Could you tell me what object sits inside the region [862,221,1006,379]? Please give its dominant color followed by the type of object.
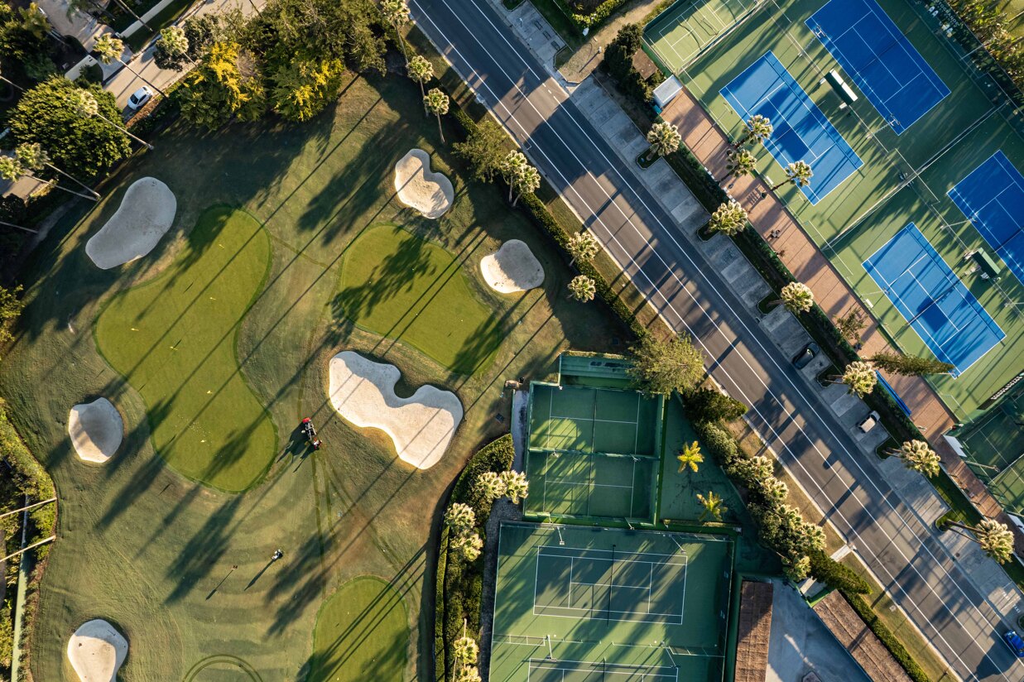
blue tennis court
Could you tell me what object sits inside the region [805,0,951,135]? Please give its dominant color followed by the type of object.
blue tennis court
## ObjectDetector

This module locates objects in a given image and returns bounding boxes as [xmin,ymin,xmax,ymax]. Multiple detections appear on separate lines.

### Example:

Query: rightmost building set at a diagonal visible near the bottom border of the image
[807,588,908,682]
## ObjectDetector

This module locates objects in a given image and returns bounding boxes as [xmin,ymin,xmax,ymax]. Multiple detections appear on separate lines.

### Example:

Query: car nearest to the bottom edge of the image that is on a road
[1002,630,1024,657]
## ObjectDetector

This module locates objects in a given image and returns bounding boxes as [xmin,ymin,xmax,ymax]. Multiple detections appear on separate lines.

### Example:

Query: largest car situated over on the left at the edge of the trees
[129,87,153,110]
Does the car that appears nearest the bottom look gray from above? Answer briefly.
No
